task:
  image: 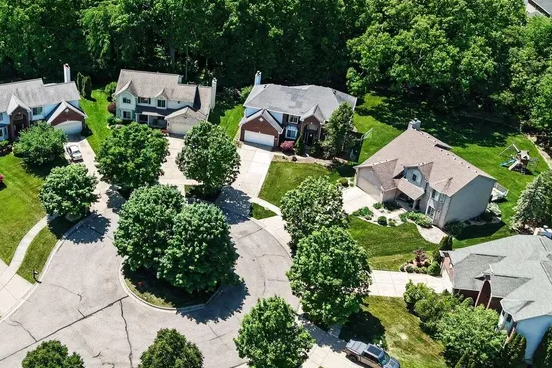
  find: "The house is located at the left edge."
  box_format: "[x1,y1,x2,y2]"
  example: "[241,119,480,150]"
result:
[0,58,92,142]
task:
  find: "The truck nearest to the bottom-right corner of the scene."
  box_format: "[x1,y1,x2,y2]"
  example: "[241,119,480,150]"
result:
[345,339,404,368]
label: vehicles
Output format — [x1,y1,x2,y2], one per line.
[65,139,85,159]
[345,339,404,368]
